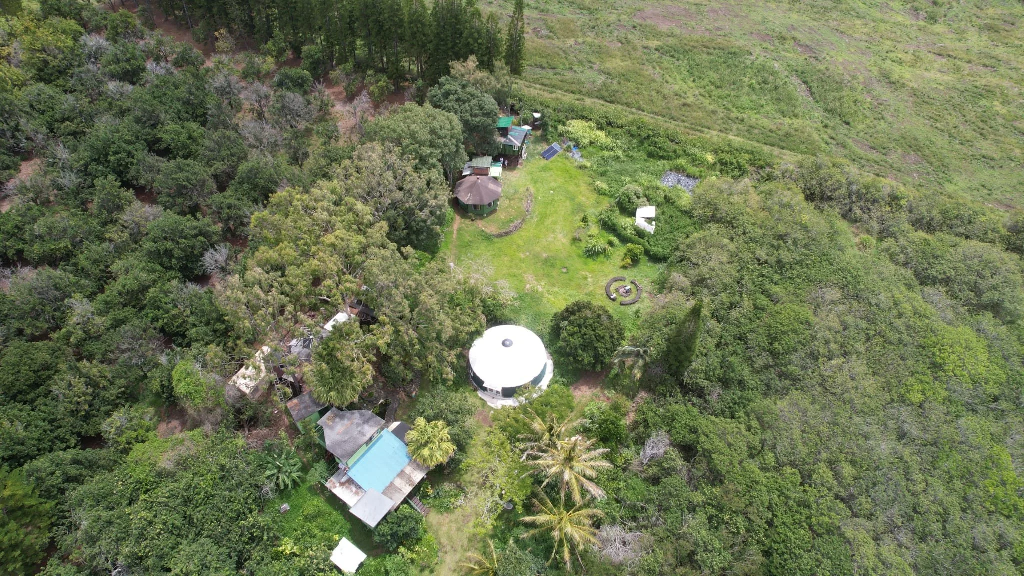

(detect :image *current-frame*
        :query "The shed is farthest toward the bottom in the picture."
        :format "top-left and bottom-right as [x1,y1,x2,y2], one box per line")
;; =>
[331,537,368,574]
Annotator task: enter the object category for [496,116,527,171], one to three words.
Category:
house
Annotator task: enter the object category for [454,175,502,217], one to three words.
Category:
house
